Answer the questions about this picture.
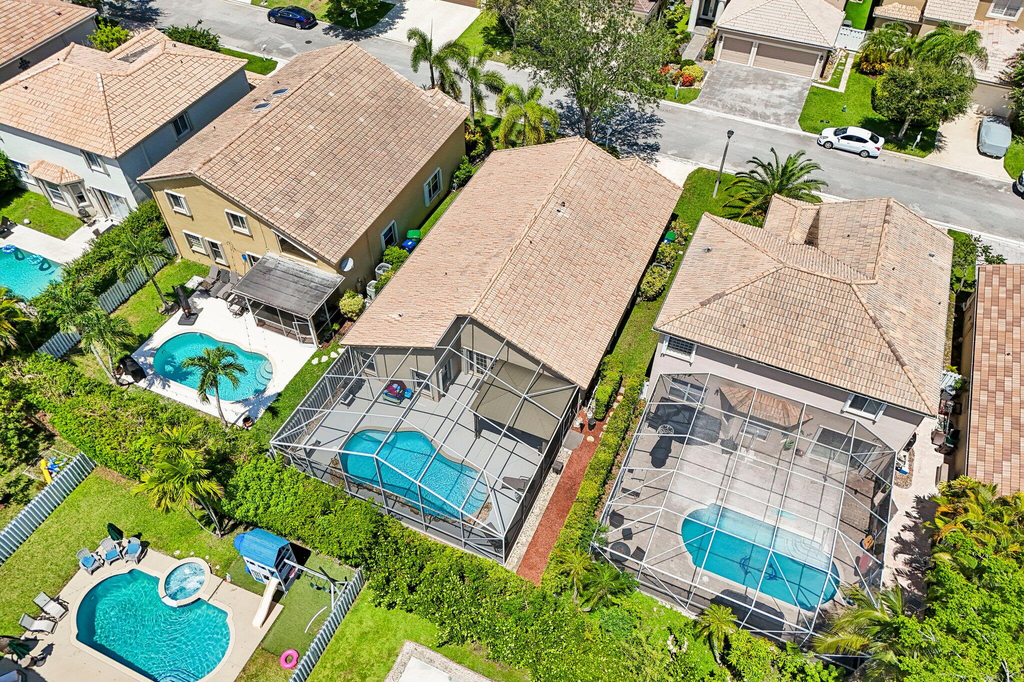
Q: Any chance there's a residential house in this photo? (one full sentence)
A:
Yes, you can see a residential house in this photo.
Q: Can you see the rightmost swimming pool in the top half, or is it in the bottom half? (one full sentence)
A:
Seen from above, the rightmost swimming pool lies in the bottom half of the view.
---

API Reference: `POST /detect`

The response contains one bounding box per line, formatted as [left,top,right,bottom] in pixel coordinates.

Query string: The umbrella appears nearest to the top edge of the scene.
[171,280,198,326]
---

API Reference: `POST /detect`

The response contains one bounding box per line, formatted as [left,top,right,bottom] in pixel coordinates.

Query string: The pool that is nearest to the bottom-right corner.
[675,497,847,618]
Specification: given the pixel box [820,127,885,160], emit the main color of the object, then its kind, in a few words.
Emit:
white car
